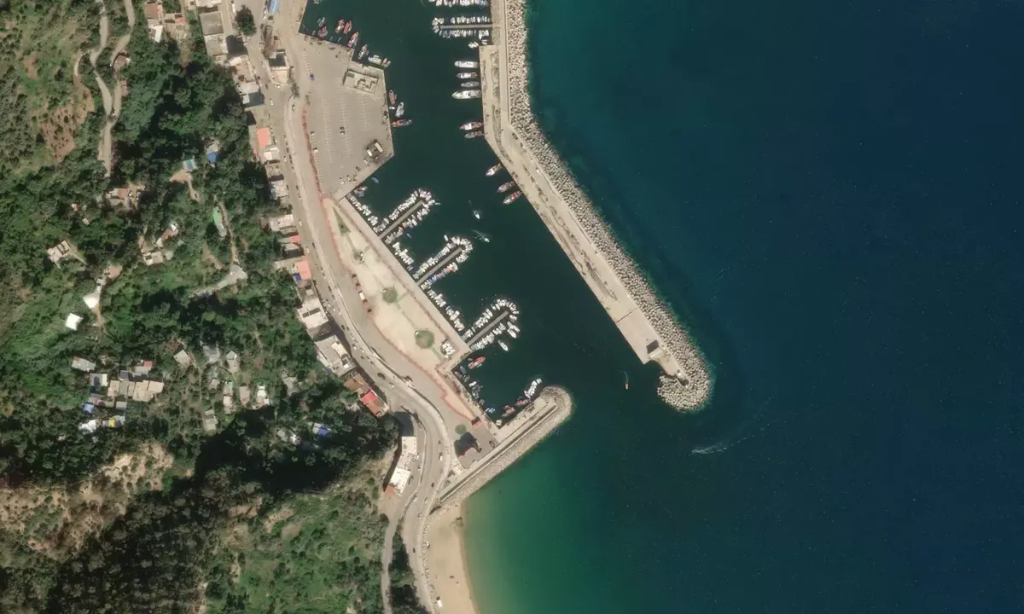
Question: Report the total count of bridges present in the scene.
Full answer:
The count of bridges is 0.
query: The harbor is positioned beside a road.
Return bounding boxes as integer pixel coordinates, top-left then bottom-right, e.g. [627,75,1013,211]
[264,0,499,495]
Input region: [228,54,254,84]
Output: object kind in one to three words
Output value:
building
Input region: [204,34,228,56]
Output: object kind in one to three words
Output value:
building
